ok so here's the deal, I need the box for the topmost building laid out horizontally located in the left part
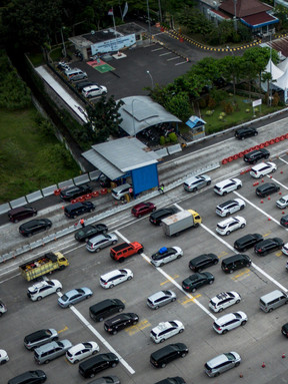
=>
[67,22,146,60]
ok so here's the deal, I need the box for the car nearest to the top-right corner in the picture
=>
[234,127,259,142]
